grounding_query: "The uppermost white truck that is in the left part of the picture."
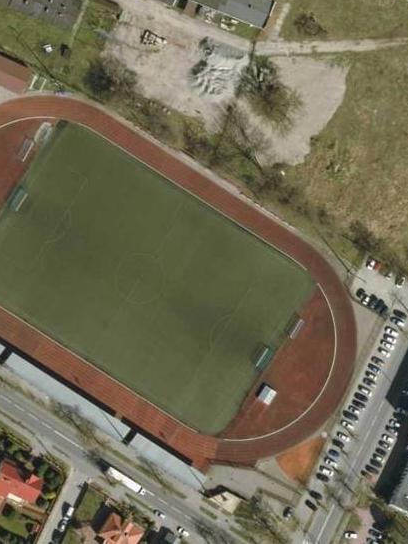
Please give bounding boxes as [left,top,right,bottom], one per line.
[104,466,146,496]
